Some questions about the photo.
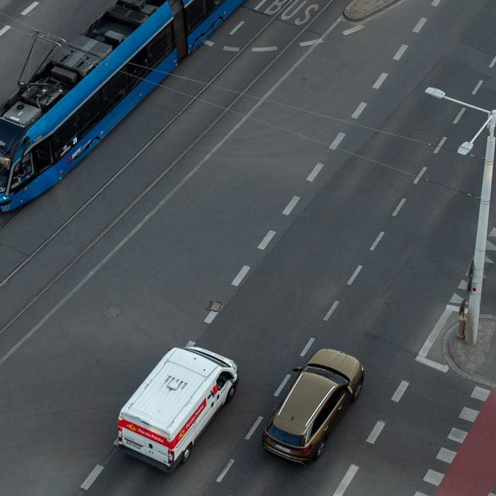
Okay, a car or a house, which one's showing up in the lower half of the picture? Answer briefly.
car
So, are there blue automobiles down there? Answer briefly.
No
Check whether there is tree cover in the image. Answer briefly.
No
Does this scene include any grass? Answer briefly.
No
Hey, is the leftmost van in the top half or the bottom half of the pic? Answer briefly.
bottom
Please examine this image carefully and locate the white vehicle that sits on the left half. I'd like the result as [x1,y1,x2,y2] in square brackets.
[112,341,243,482]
